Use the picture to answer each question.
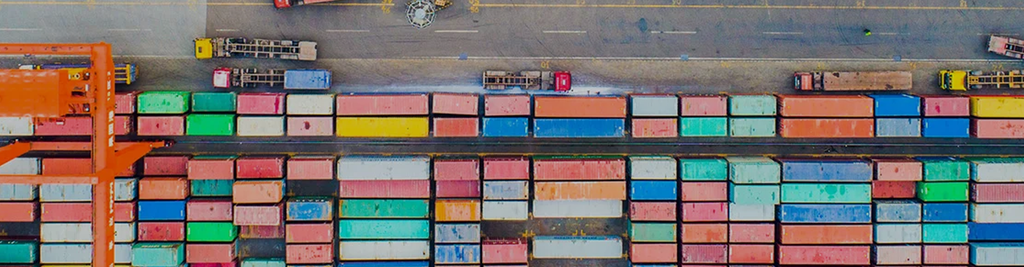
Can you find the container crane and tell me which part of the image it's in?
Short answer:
left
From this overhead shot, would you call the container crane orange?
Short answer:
Yes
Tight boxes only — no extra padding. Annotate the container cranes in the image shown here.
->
[0,40,177,267]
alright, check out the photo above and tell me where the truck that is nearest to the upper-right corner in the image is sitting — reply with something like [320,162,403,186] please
[988,34,1024,57]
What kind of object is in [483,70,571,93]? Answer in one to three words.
truck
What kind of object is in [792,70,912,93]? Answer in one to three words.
truck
